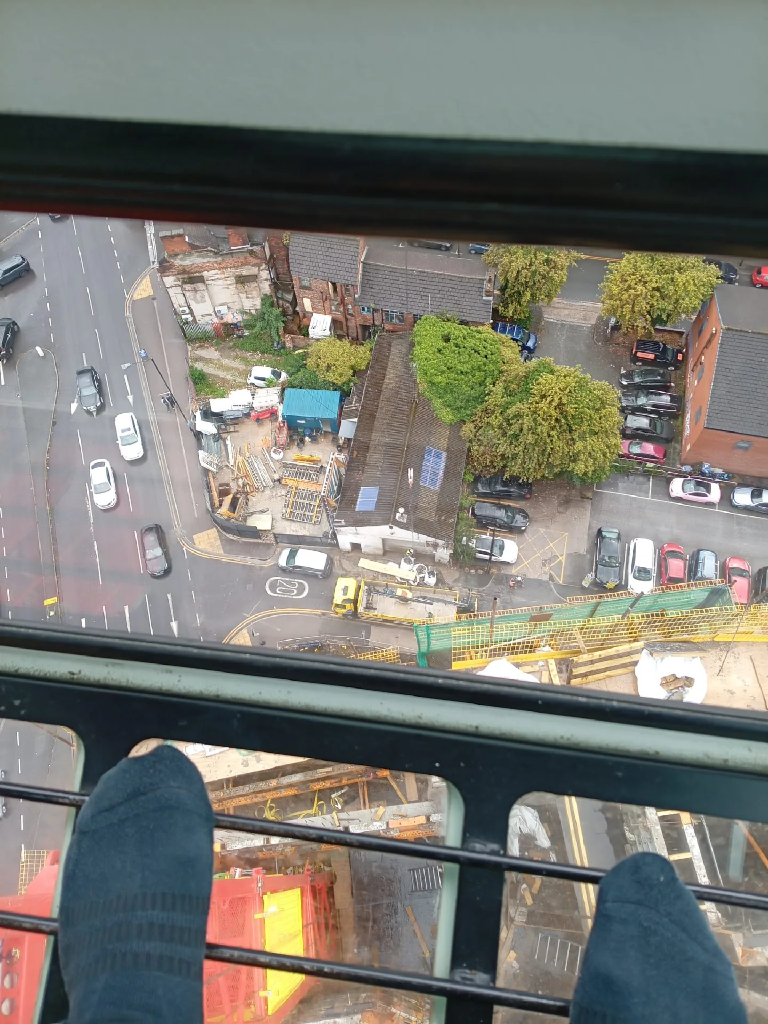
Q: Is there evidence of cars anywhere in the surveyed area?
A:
Yes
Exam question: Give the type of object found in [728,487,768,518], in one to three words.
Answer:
car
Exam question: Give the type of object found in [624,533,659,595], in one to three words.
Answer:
car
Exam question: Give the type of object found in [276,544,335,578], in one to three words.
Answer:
van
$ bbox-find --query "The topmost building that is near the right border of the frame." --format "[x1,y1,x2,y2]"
[685,288,768,471]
